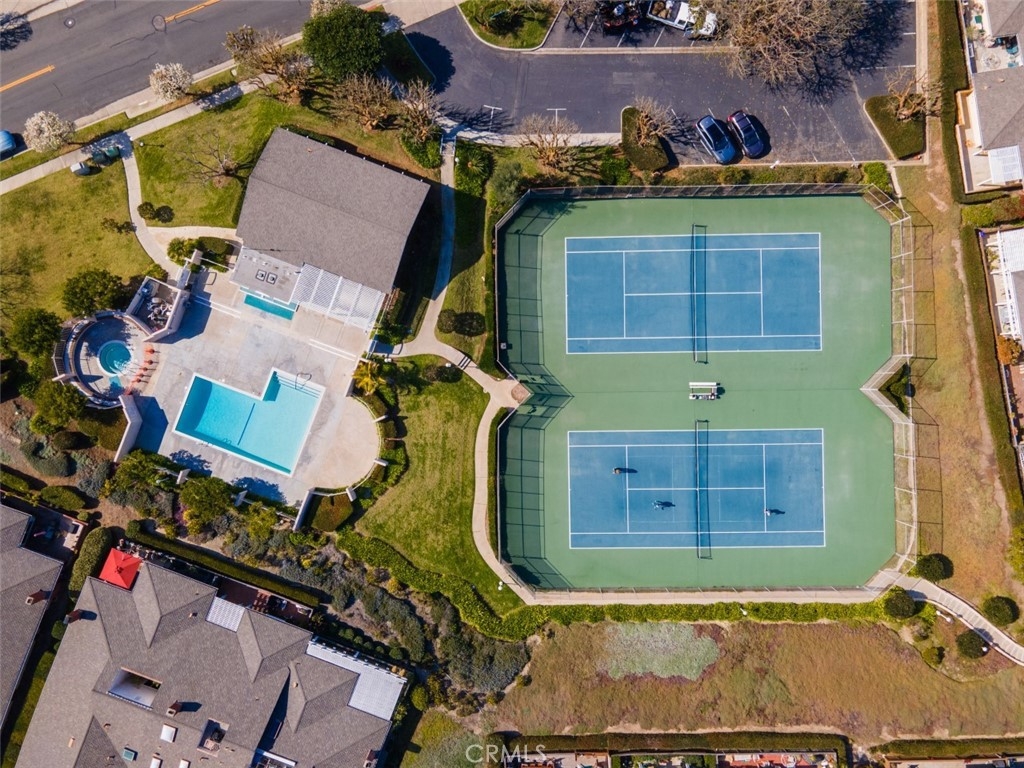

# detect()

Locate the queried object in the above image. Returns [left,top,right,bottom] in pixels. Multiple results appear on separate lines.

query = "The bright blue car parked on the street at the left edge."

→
[0,132,20,158]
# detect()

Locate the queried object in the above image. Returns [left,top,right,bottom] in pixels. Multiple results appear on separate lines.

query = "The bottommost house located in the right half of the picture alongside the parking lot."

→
[962,67,1024,152]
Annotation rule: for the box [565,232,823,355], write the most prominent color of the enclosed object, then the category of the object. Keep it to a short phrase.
blue tennis court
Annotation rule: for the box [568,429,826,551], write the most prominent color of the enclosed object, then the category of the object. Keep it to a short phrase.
blue tennis court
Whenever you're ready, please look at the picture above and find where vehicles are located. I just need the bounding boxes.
[0,132,20,158]
[728,109,762,161]
[696,113,734,166]
[656,0,716,38]
[601,0,662,29]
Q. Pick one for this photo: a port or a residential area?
residential area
